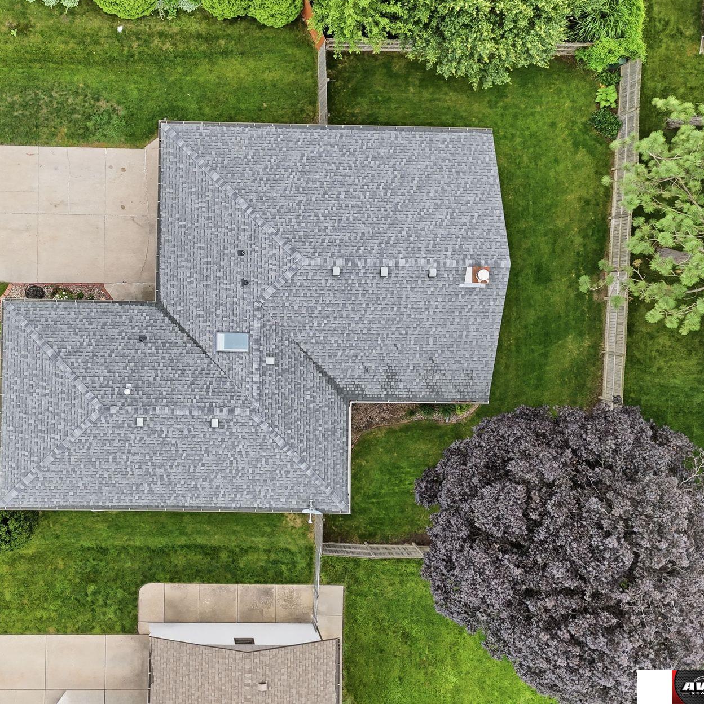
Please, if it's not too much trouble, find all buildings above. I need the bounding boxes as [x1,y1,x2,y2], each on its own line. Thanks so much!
[0,117,511,516]
[147,622,340,704]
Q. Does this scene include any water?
No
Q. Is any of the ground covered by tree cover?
Yes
